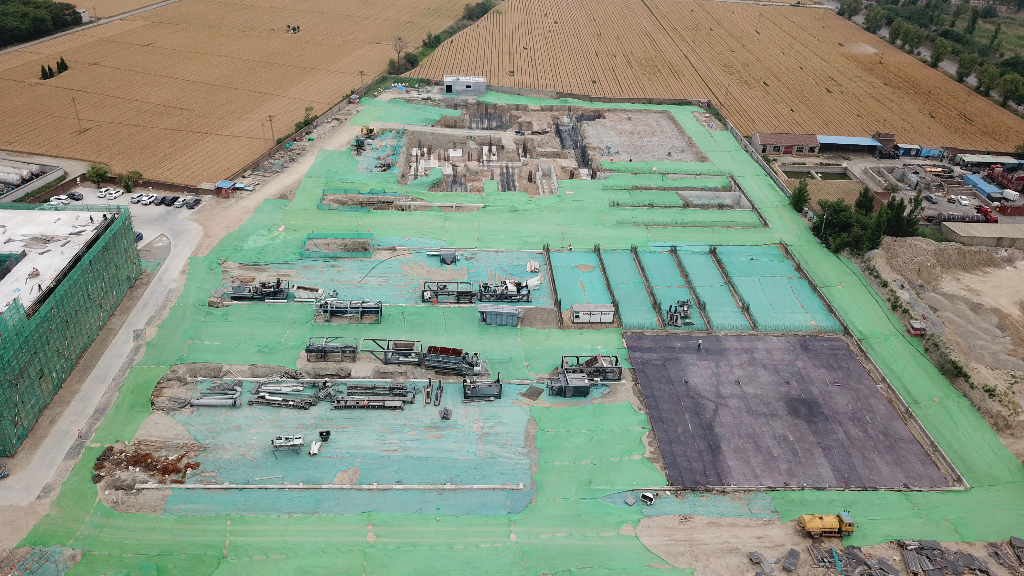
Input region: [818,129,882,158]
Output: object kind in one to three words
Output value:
shed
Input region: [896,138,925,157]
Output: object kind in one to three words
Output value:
building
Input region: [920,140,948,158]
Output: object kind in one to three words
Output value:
building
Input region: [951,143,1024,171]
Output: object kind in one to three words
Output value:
shed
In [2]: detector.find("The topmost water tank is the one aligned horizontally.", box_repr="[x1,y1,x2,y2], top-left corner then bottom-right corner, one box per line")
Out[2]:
[775,164,860,182]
